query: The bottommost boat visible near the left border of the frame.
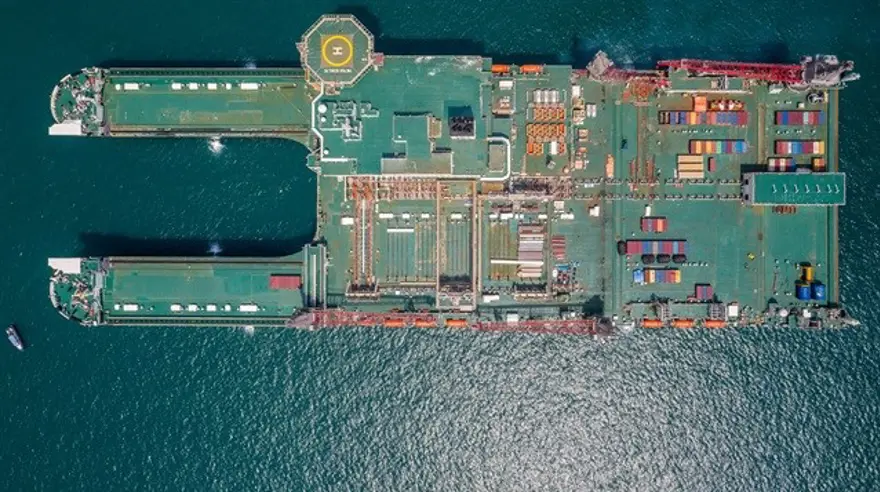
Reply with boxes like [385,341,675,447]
[3,325,21,349]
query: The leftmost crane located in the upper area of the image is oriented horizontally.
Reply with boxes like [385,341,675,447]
[573,50,667,86]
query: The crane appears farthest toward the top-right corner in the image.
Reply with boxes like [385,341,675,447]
[656,55,860,96]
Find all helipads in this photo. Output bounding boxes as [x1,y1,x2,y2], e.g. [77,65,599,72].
[296,15,384,93]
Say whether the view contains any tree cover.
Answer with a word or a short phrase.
No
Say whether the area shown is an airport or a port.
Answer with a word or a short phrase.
port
